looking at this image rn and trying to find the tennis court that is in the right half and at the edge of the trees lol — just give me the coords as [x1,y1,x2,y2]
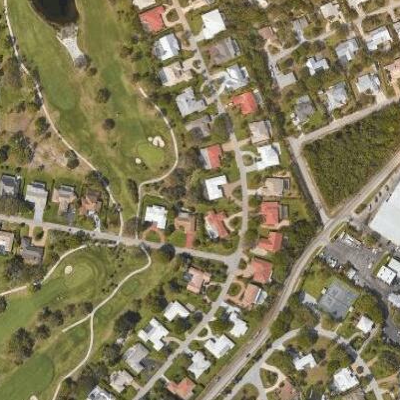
[320,274,366,323]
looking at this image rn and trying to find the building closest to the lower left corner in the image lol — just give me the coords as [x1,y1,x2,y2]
[85,382,113,400]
